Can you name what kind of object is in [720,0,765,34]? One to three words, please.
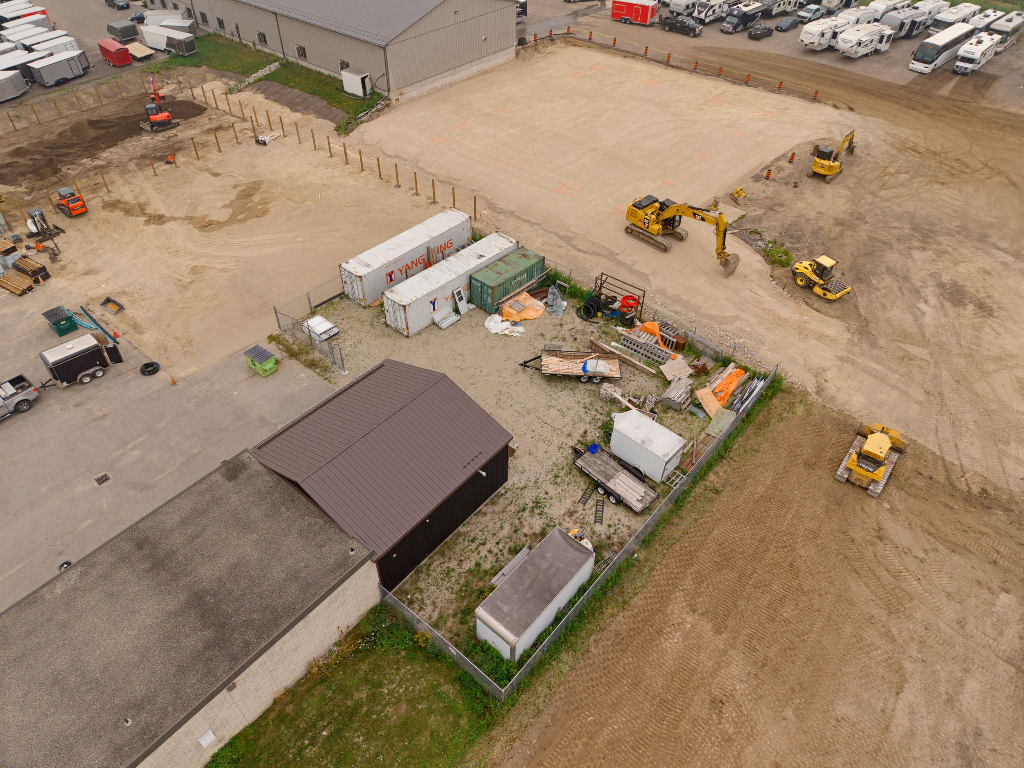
camper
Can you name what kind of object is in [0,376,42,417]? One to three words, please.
truck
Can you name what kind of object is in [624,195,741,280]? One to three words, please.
work vehicle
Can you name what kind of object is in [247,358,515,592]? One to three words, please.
building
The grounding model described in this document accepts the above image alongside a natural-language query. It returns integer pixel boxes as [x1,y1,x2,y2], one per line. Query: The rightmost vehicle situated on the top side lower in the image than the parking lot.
[809,125,854,183]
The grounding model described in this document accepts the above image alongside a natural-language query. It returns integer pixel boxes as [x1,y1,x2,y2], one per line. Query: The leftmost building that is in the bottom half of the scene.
[0,446,379,768]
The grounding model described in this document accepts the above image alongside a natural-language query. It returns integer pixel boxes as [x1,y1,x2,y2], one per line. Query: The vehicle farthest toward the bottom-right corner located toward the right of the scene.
[836,422,910,494]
